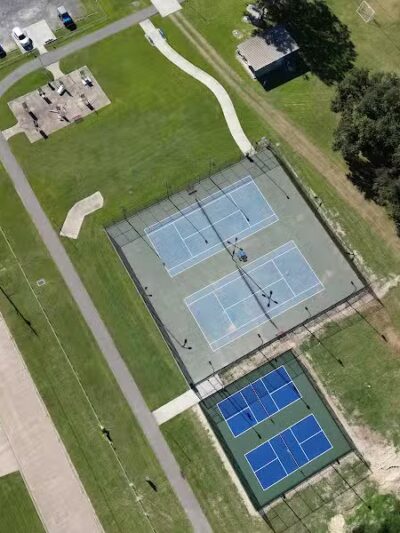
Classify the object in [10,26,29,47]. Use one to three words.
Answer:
car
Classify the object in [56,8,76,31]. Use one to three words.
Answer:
vehicle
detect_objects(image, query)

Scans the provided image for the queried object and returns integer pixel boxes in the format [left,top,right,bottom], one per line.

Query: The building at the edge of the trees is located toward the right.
[232,24,299,80]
